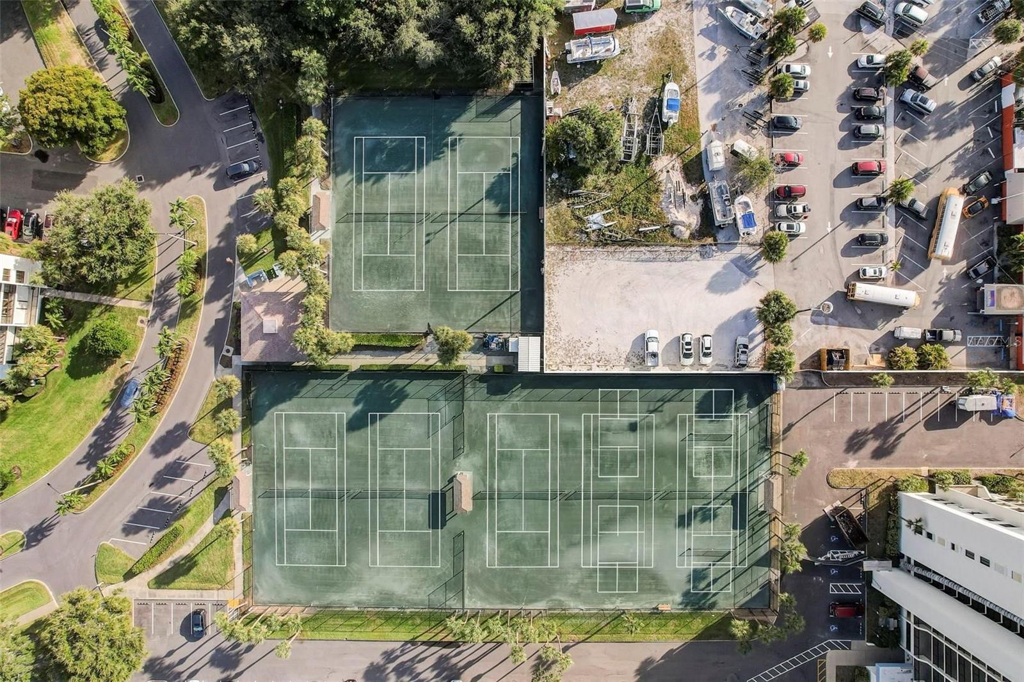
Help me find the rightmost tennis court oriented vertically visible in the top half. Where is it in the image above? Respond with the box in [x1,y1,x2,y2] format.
[448,136,520,291]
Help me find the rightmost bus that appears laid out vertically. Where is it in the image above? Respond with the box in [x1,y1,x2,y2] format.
[921,188,959,264]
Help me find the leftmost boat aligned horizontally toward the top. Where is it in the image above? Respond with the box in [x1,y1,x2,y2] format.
[564,37,623,62]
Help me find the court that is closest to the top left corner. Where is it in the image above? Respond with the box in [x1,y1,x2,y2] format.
[353,136,425,291]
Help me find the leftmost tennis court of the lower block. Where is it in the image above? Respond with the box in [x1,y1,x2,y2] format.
[275,412,347,566]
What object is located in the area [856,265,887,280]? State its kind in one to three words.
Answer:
car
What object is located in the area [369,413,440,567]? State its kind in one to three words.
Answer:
tennis court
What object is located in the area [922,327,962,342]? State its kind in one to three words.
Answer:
vehicle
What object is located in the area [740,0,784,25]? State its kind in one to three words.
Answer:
boat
